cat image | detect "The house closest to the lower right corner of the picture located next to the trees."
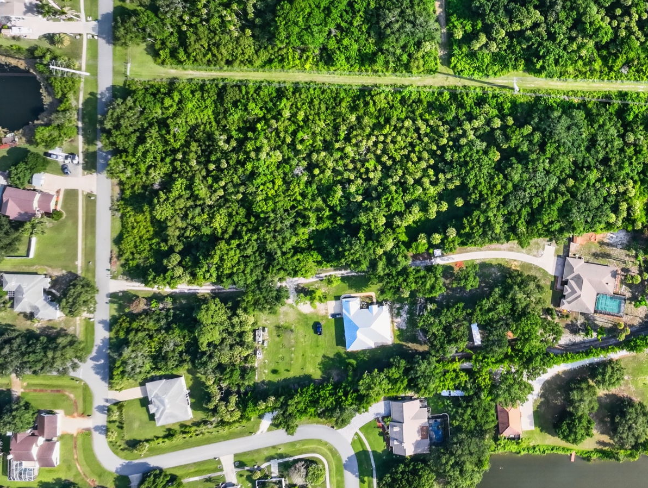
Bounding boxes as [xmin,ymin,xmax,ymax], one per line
[498,399,522,439]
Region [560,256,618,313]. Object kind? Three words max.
house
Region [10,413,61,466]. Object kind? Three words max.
house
